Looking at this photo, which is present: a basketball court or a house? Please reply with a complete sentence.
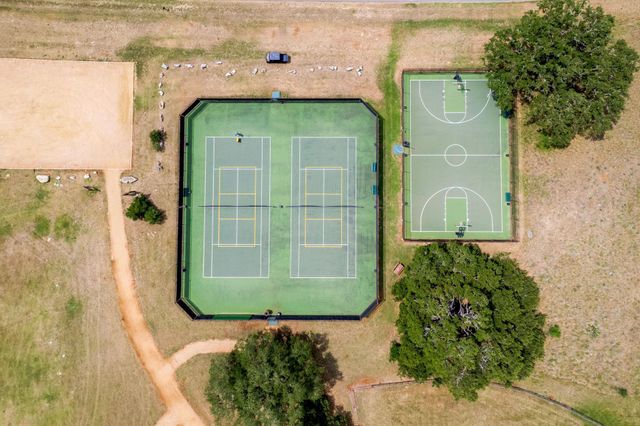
Looking from above, you can make out a basketball court.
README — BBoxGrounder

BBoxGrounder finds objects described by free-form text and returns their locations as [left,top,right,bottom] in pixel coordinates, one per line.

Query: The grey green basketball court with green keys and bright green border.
[404,72,510,239]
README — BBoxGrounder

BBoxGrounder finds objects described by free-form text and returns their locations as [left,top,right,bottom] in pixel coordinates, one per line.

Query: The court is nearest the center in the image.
[290,136,357,279]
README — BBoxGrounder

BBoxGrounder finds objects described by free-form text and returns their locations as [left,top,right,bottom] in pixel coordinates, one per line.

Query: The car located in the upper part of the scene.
[266,49,289,64]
